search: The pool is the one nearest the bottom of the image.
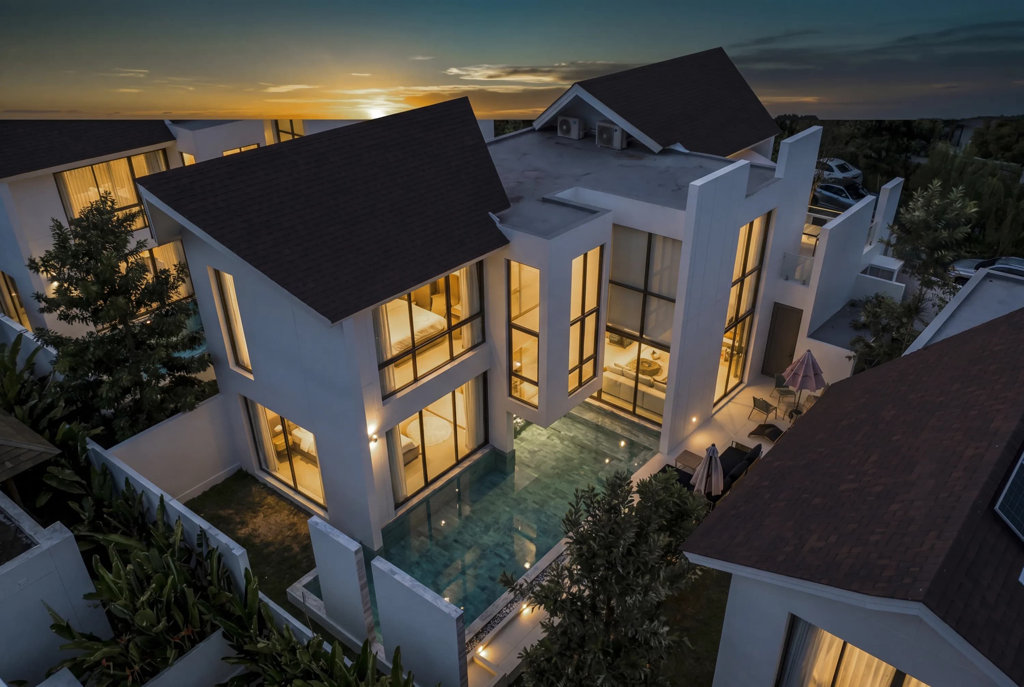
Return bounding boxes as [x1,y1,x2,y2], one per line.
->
[287,396,663,687]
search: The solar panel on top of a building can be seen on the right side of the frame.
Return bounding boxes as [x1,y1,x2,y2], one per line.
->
[994,446,1024,546]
